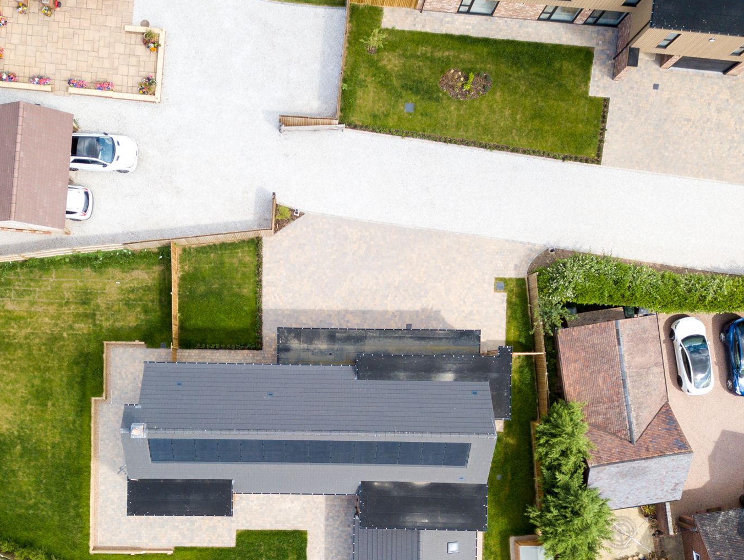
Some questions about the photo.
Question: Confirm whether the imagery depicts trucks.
No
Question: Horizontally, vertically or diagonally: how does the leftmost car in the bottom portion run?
vertically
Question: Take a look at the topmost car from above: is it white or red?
white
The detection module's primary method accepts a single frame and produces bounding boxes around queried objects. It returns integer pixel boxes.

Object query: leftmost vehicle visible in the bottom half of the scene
[670,316,712,397]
